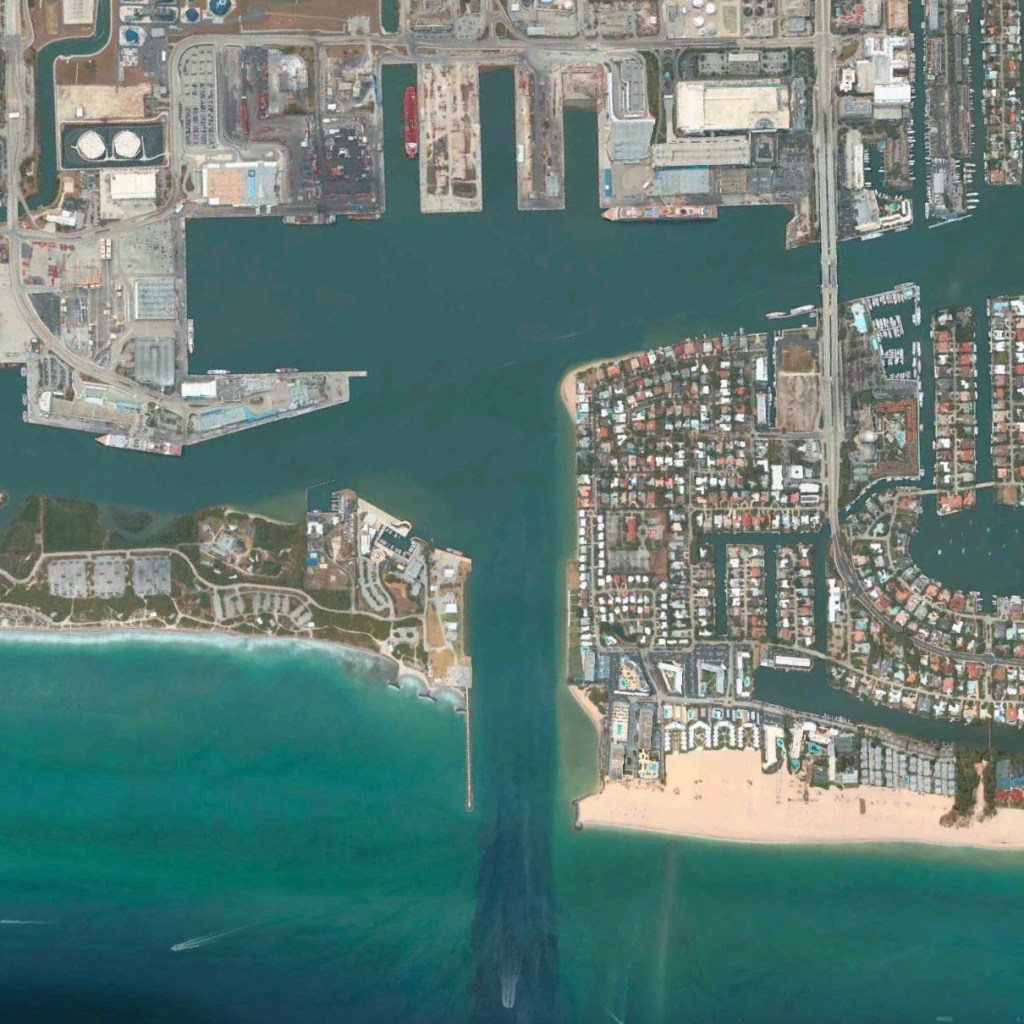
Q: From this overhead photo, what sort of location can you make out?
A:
port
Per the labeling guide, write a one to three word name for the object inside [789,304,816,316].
boat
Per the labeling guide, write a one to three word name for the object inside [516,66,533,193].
pier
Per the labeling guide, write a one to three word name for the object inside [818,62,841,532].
bridge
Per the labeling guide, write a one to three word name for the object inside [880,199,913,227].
building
